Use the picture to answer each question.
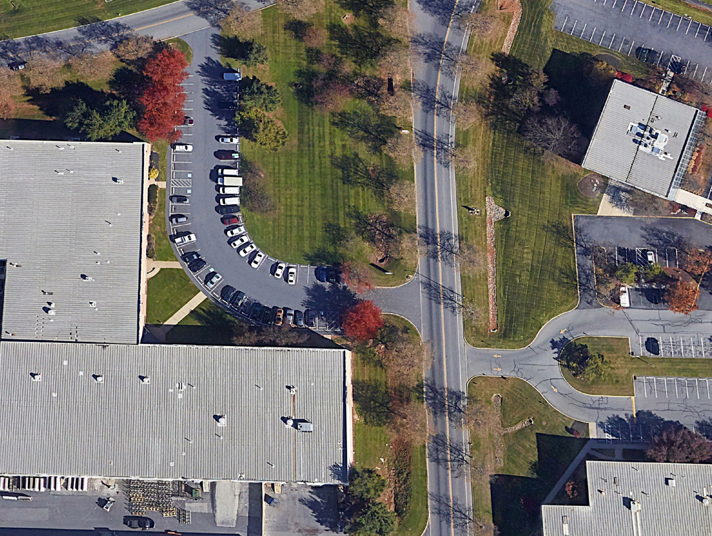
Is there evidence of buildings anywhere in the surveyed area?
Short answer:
Yes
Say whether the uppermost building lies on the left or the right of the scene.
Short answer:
right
